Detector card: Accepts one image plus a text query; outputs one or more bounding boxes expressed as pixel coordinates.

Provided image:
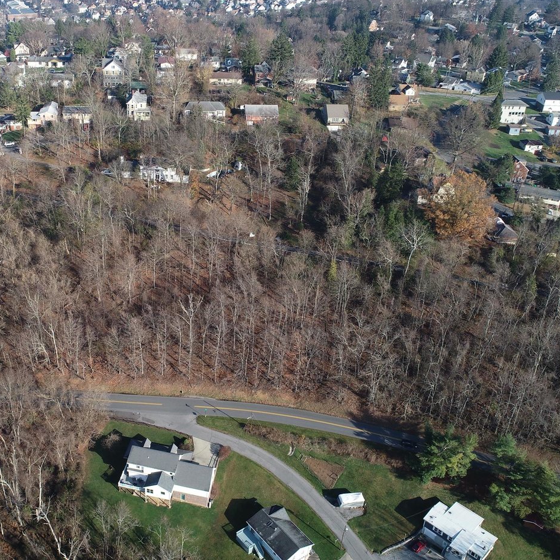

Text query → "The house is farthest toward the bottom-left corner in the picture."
[113,429,227,517]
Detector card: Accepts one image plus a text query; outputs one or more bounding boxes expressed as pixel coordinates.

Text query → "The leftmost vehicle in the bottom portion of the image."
[338,492,368,511]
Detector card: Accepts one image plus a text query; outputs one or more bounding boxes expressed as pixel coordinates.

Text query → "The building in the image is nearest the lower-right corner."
[423,496,504,560]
